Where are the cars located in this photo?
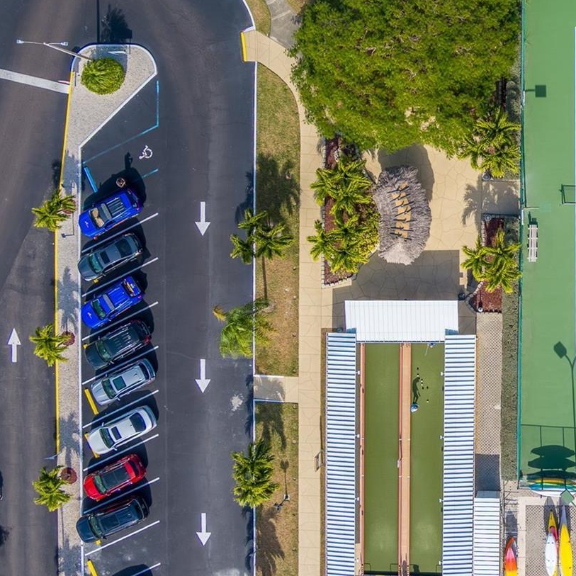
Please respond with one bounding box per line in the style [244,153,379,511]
[88,405,163,455]
[80,277,150,325]
[82,451,153,498]
[75,229,148,278]
[90,357,162,402]
[78,187,148,236]
[83,318,157,368]
[75,491,155,541]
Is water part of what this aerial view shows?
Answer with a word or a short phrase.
No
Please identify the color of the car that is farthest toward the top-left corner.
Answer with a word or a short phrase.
blue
